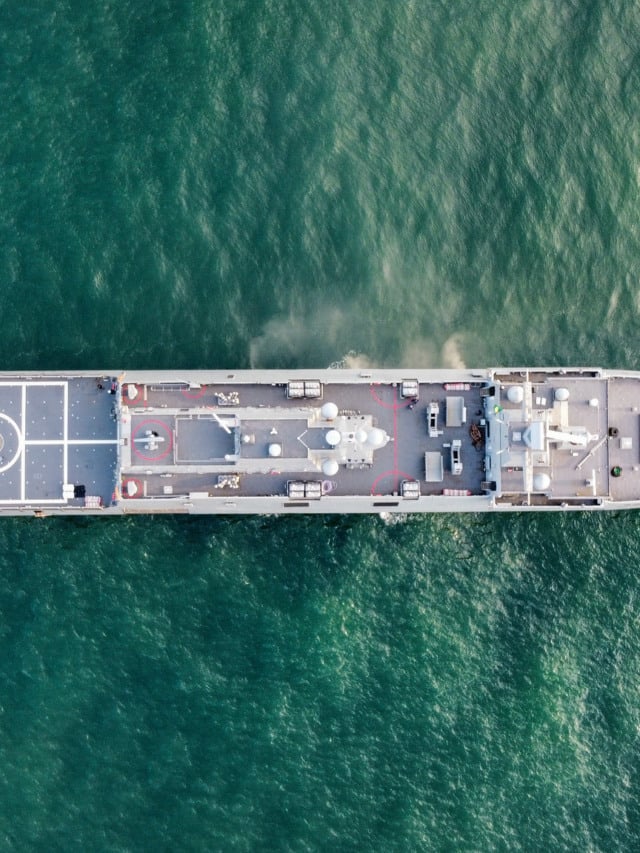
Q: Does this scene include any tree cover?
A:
No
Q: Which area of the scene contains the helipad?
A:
left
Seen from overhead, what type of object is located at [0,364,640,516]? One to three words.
ship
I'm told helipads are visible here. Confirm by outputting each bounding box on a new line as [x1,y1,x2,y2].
[0,375,116,509]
